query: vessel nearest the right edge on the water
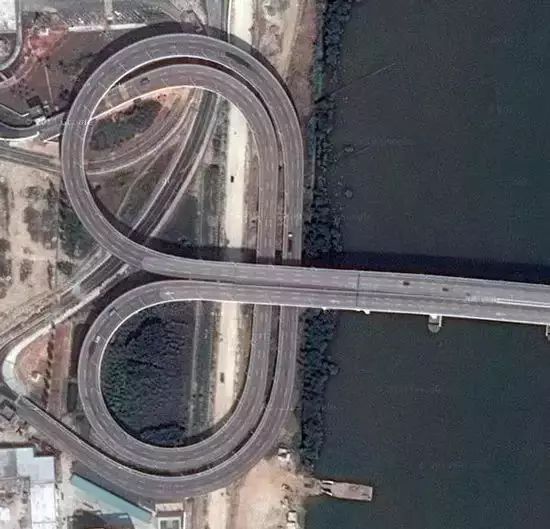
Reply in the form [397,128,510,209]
[325,482,372,501]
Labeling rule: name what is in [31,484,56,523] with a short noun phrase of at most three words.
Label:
building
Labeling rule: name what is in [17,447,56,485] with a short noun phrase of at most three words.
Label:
building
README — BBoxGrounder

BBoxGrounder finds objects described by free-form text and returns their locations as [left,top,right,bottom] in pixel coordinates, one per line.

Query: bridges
[138,248,550,340]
